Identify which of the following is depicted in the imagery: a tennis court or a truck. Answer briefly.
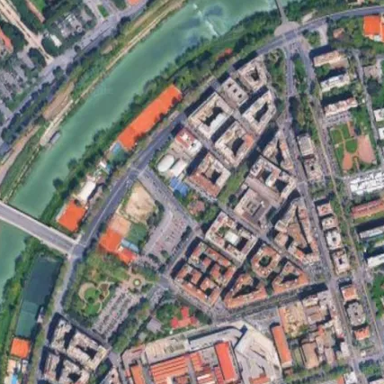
tennis court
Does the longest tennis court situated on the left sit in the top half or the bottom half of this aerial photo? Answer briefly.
top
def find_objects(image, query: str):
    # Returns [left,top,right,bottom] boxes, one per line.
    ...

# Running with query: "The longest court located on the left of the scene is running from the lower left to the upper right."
[118,84,181,149]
